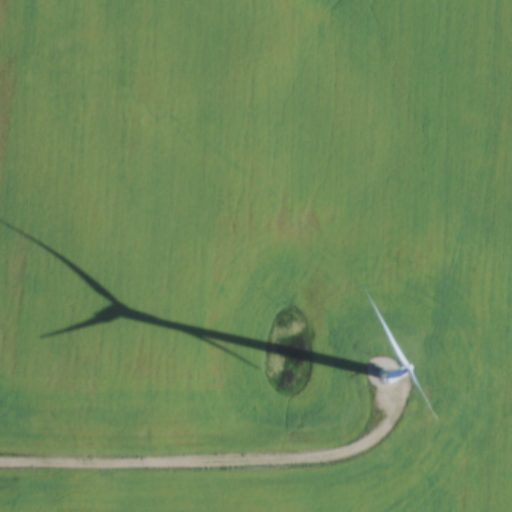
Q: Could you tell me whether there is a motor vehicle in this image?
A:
No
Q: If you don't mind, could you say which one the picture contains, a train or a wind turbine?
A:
wind turbine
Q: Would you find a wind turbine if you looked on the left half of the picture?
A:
No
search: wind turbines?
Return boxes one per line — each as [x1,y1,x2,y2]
[370,296,438,420]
